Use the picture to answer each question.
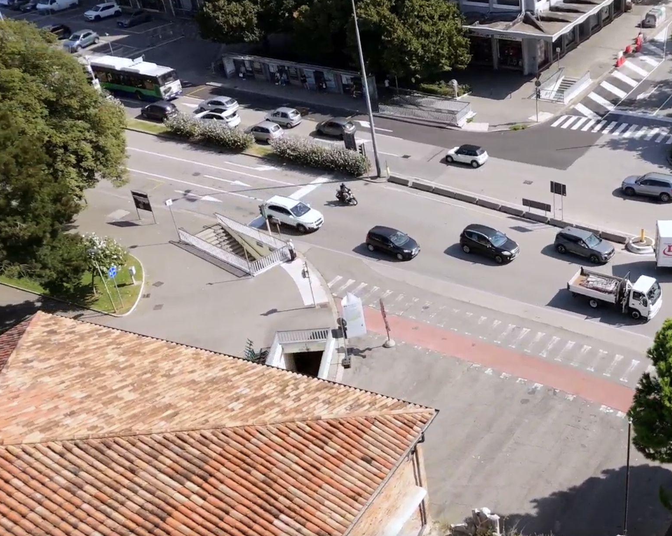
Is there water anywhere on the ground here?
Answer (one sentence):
No, no water is visible.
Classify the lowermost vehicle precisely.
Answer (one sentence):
The lowermost vehicle can be classified as a truck.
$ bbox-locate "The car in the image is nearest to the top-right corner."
[619,168,672,202]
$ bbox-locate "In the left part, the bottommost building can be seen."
[0,307,445,536]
